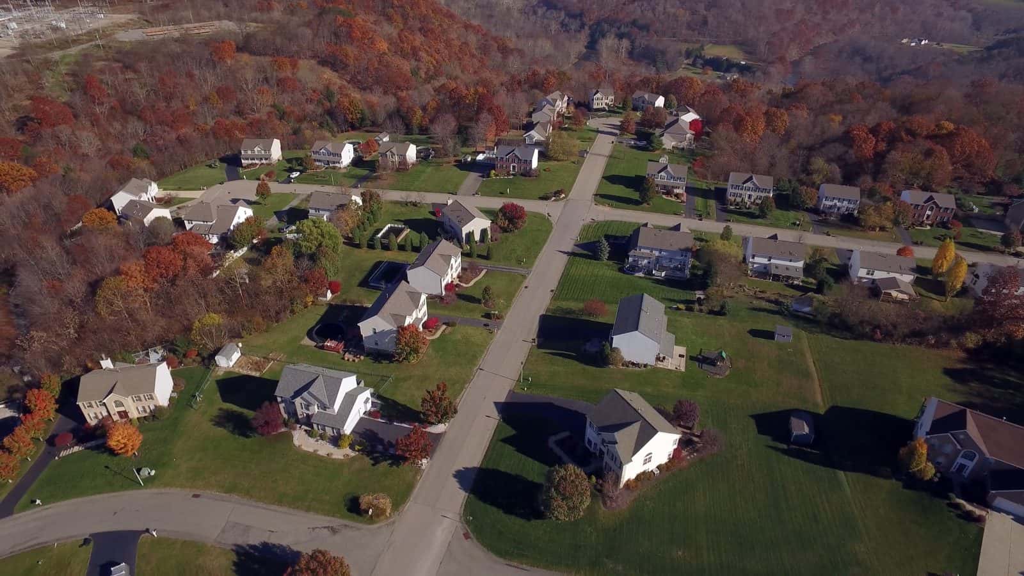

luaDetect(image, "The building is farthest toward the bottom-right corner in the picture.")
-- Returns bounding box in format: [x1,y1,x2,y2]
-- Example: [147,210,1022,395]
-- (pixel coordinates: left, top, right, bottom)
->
[886,389,1024,529]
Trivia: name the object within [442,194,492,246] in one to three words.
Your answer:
house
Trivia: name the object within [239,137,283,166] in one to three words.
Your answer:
house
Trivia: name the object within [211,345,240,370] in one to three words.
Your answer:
shed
